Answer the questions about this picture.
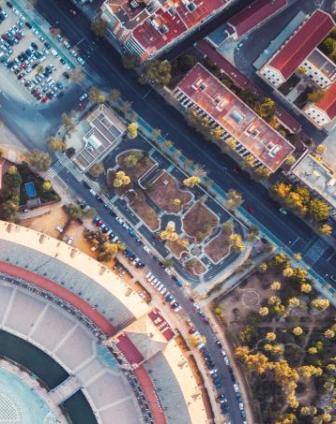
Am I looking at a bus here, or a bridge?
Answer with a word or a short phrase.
bridge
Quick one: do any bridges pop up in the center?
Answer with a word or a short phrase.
No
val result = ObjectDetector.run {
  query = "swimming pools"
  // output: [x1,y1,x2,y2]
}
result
[25,182,37,198]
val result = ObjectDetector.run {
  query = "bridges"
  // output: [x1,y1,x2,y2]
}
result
[47,373,83,408]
